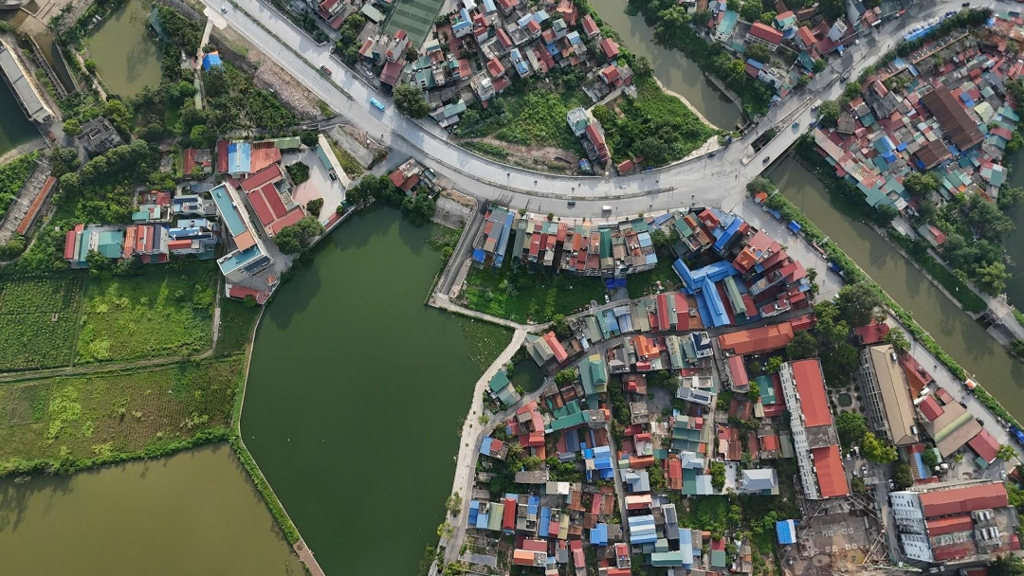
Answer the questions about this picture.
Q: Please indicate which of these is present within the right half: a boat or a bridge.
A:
bridge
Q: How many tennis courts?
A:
0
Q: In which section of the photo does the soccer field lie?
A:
top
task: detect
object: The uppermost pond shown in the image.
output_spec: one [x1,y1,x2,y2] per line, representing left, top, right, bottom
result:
[90,0,161,97]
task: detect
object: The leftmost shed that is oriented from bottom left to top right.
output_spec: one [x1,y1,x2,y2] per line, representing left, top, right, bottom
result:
[12,181,58,242]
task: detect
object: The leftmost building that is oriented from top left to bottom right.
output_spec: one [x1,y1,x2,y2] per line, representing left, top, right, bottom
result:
[0,30,64,132]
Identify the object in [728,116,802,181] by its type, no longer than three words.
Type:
bridge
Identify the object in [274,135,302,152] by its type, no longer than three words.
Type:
house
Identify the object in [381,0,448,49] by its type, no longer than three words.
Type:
soccer field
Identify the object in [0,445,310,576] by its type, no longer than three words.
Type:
pond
